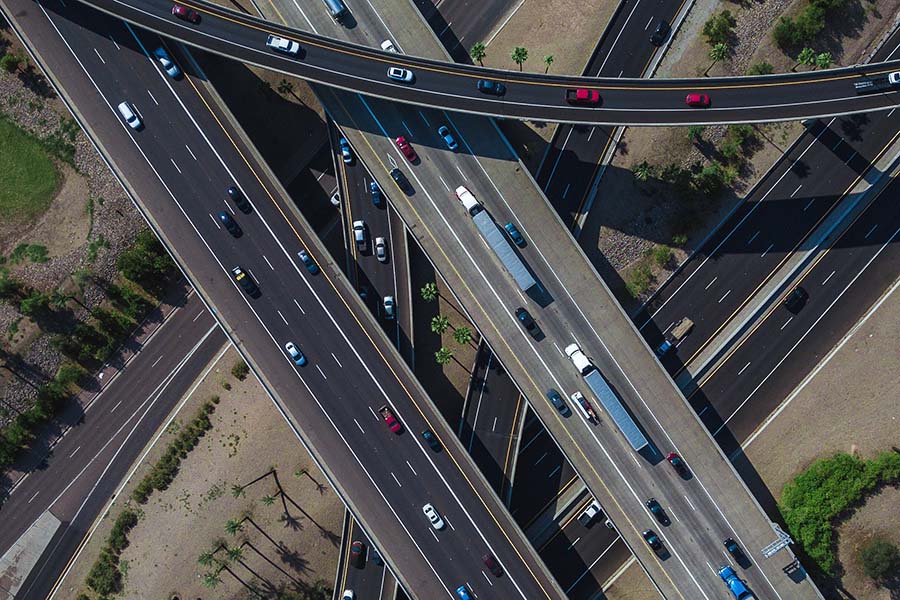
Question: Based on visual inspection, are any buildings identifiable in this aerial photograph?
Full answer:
No, no building is visible in the view.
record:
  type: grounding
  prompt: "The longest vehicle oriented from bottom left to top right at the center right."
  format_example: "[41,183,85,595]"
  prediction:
[655,314,695,356]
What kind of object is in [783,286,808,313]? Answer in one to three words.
car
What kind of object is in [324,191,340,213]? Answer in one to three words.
car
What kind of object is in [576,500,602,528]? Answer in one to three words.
truck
